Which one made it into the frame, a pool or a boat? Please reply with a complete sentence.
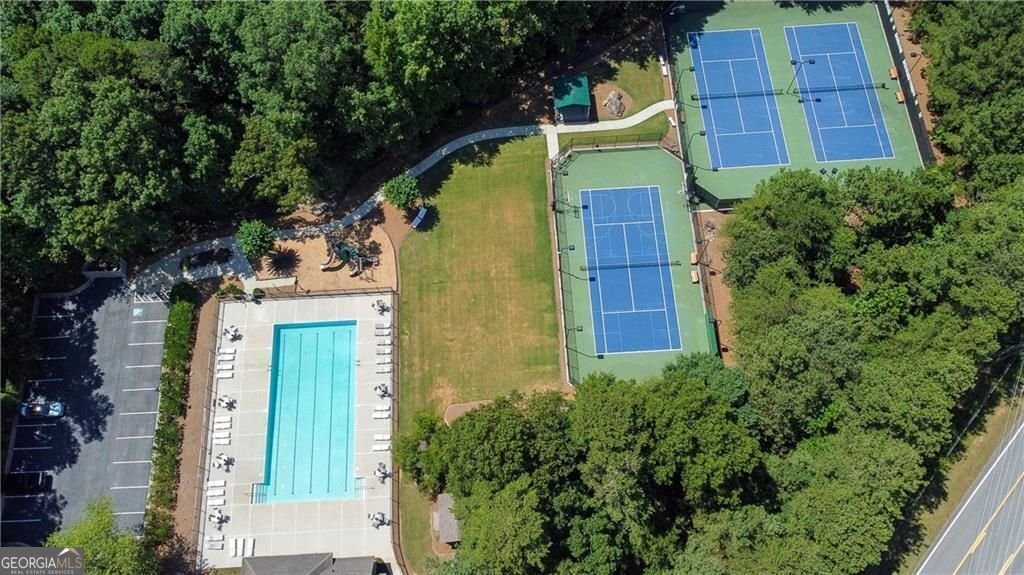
Visible in the photo is a pool.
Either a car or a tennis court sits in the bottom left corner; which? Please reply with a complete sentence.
You can see a car in the bottom left corner.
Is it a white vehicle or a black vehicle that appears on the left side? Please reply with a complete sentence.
What appears on the left side is a black vehicle.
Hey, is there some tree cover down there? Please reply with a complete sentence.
Yes, there is tree cover in the image.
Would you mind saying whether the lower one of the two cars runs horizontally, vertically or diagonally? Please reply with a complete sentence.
In this picture, the lower one of the two cars is oriented horizontally.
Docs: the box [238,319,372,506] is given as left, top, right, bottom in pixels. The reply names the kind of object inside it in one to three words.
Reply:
swimming pool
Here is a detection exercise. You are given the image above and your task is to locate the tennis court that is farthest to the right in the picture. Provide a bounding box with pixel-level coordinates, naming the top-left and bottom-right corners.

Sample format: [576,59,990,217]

[770,0,924,189]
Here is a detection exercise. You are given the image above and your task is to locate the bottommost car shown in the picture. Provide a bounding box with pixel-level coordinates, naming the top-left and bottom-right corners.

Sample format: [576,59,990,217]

[2,471,50,492]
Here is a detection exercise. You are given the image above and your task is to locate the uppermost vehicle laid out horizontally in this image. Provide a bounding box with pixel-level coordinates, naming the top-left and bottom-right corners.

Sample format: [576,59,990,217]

[19,400,62,419]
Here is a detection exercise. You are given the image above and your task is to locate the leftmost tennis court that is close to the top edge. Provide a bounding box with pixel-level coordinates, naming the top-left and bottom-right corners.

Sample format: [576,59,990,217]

[666,0,810,192]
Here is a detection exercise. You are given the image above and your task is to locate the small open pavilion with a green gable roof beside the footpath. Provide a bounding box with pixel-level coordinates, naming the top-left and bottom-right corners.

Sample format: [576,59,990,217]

[555,75,593,123]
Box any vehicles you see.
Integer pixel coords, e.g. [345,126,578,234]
[19,400,62,419]
[2,471,50,492]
